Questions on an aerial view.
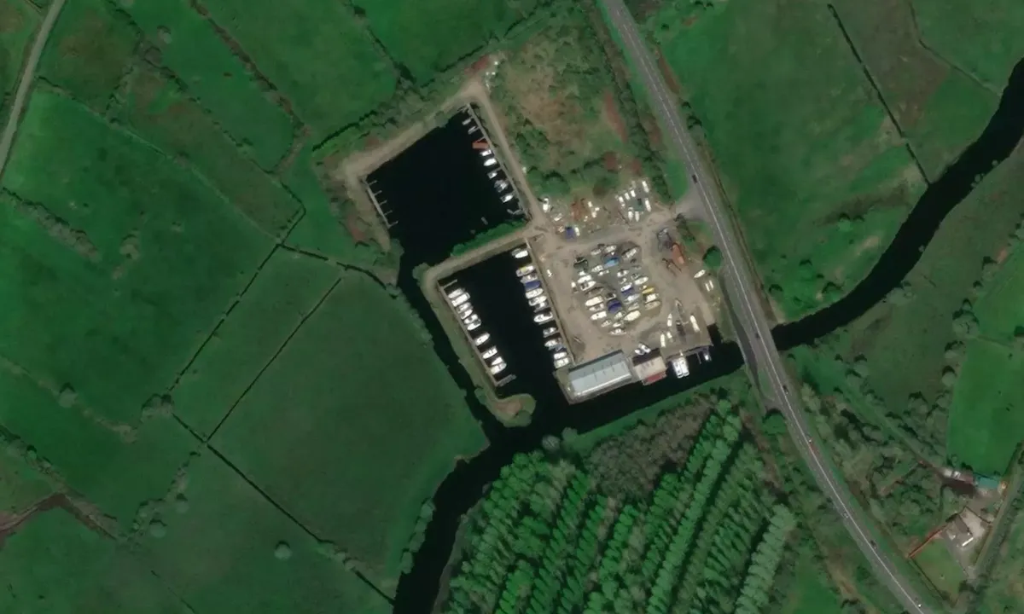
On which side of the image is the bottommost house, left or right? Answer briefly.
right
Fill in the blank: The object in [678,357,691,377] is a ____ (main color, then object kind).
white boat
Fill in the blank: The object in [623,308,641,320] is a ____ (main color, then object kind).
white boat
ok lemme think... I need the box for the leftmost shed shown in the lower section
[570,353,632,397]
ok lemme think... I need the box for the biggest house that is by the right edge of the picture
[945,515,973,545]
